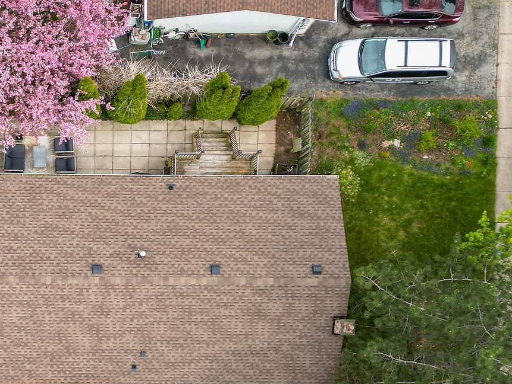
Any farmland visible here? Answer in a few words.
No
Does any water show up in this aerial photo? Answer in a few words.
No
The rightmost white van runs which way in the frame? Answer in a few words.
from left to right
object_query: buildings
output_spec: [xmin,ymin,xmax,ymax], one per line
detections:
[142,0,340,36]
[0,170,358,384]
